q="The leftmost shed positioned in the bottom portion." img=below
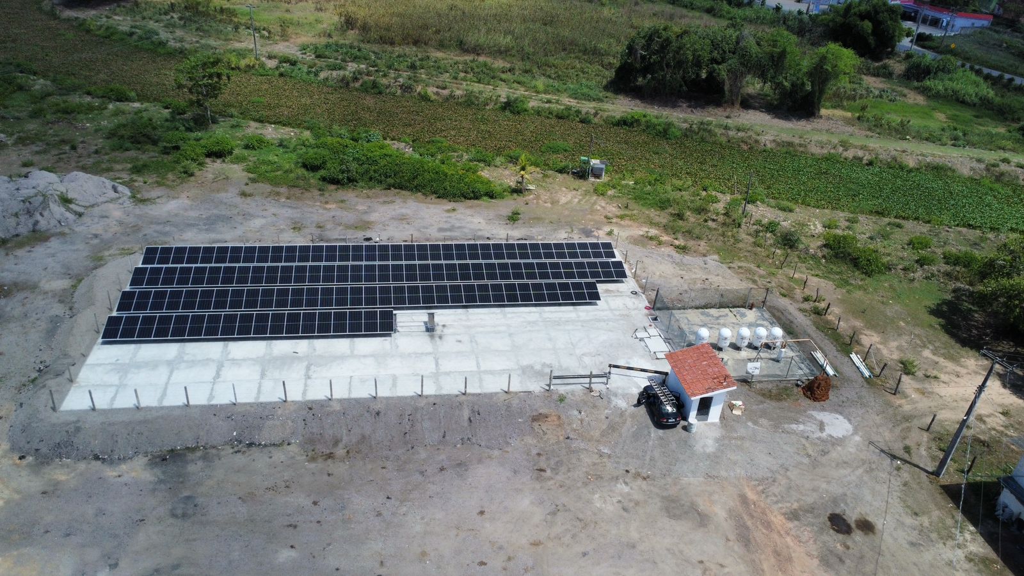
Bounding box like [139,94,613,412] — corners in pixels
[666,344,738,425]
